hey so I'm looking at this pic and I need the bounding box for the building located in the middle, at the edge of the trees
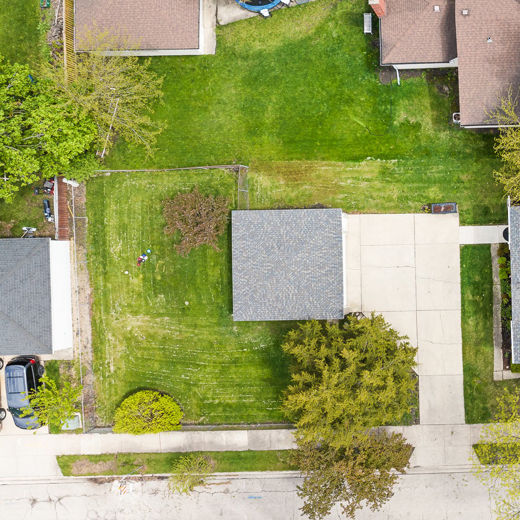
[231,208,349,321]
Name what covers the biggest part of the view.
grass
